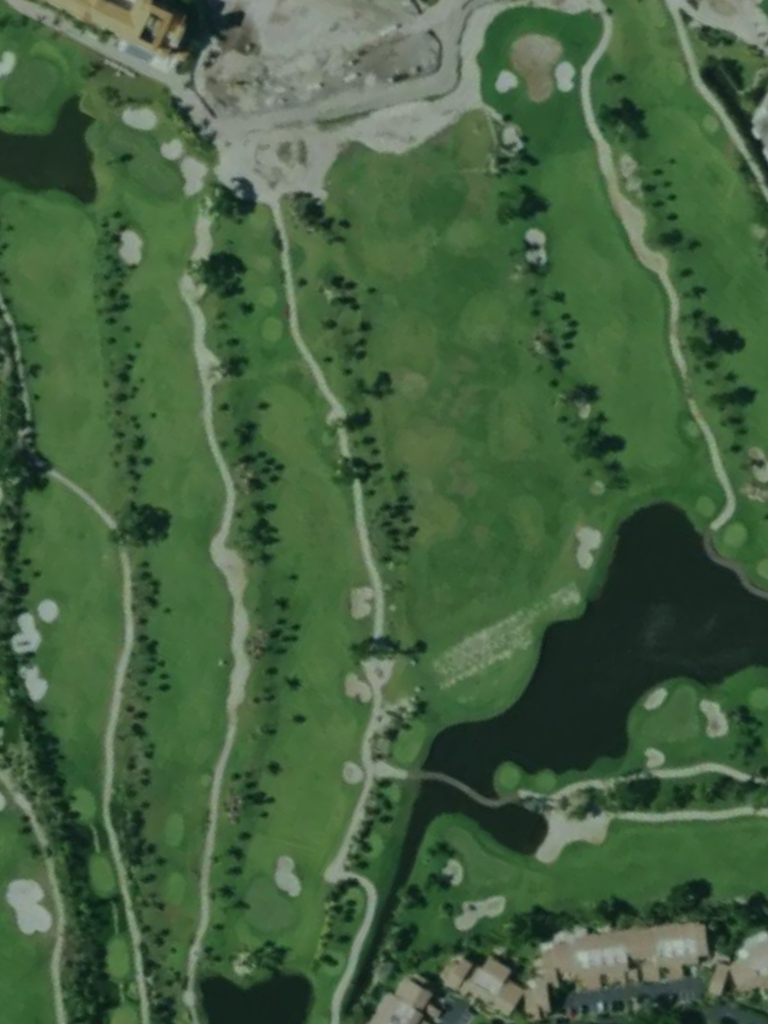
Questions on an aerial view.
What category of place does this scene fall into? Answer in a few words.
golf course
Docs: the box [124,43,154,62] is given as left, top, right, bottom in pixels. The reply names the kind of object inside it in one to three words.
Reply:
swimming pool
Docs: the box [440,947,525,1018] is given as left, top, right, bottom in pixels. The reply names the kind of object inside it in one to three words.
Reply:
house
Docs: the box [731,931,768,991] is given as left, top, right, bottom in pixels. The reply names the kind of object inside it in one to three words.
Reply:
house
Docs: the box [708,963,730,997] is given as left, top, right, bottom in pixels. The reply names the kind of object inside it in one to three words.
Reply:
building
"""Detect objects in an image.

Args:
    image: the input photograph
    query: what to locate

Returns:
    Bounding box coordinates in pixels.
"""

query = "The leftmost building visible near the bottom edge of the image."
[368,975,443,1024]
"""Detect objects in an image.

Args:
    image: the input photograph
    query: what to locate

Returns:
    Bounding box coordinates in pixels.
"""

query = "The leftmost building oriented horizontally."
[49,0,187,61]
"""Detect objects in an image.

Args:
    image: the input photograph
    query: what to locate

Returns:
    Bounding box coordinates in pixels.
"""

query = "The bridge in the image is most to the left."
[408,772,519,806]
